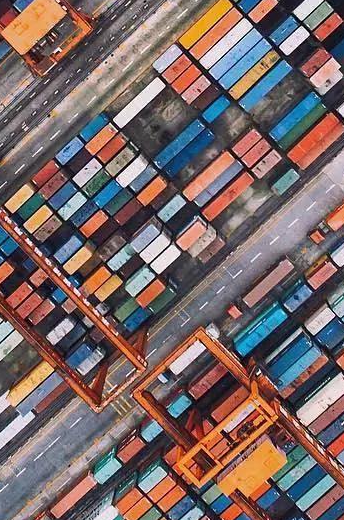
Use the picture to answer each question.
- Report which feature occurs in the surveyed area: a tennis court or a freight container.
freight container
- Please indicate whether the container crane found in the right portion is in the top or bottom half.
bottom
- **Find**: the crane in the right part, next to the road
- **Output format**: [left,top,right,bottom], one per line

[129,322,344,520]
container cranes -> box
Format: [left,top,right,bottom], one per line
[0,0,101,80]
[129,322,344,520]
[0,200,159,417]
